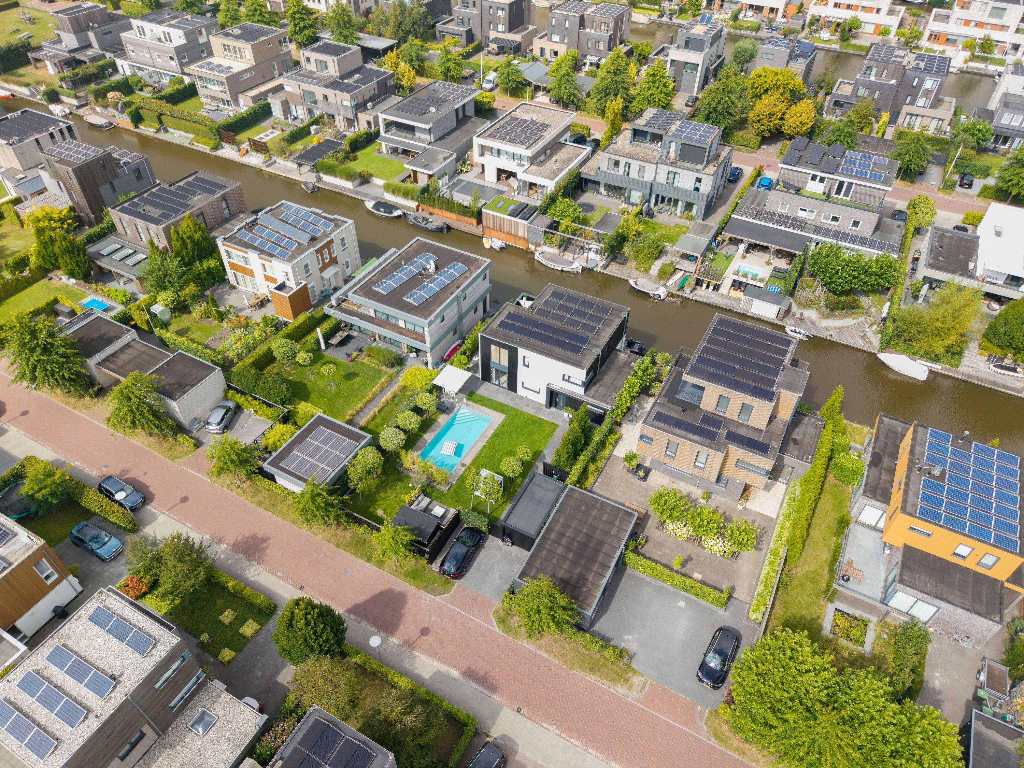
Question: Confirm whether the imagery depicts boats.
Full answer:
Yes, the image includes a boat.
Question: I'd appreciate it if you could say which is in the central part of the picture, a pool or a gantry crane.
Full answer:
What appears in the central part of the picture is a pool.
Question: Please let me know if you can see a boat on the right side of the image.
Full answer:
Yes, a boat can be seen on the right side of the image.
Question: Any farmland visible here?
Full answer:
No, the scene doesn't show any farmland.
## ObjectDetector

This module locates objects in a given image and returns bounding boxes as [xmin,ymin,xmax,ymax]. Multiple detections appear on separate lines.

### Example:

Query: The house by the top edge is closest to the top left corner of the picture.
[28,2,131,75]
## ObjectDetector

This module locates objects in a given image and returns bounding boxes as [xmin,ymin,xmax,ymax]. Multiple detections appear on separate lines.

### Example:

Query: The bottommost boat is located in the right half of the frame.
[877,351,931,382]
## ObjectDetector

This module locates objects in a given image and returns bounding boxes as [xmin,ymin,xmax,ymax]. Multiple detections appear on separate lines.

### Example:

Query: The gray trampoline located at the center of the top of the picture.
[574,201,598,214]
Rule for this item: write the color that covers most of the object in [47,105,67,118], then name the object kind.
white boat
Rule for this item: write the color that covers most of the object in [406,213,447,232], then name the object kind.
gray boat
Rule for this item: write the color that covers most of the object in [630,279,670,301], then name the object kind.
white boat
